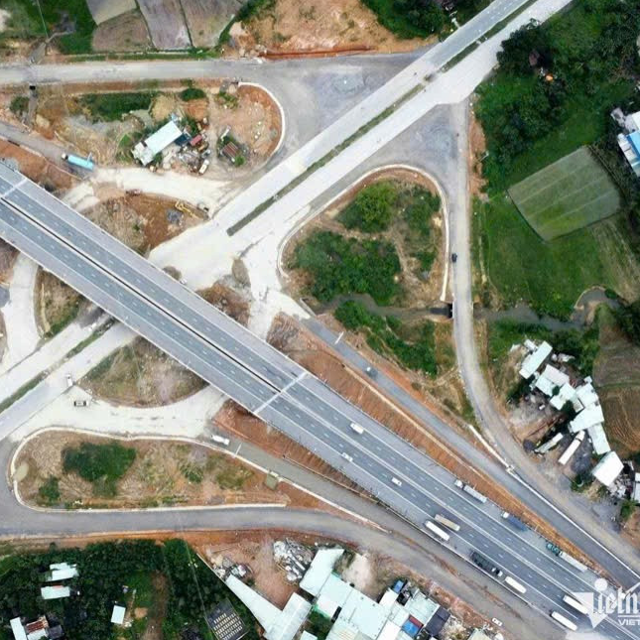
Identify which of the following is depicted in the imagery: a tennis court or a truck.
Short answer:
truck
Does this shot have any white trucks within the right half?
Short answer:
Yes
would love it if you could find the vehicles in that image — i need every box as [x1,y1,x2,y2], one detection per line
[433,512,463,534]
[423,519,453,545]
[454,478,490,505]
[197,158,211,174]
[545,540,591,574]
[562,593,592,617]
[367,368,378,379]
[342,452,353,462]
[548,609,581,635]
[390,477,402,487]
[60,151,94,170]
[450,252,458,263]
[500,510,530,533]
[534,432,566,453]
[558,431,588,465]
[503,573,530,597]
[211,433,229,446]
[470,548,505,579]
[350,422,364,435]
[66,374,73,387]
